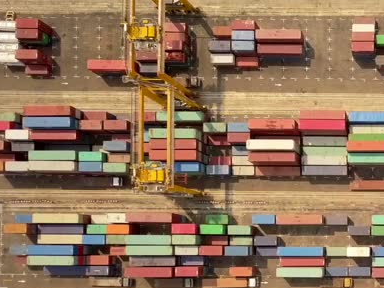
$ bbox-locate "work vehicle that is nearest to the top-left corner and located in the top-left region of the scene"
[3,8,17,23]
